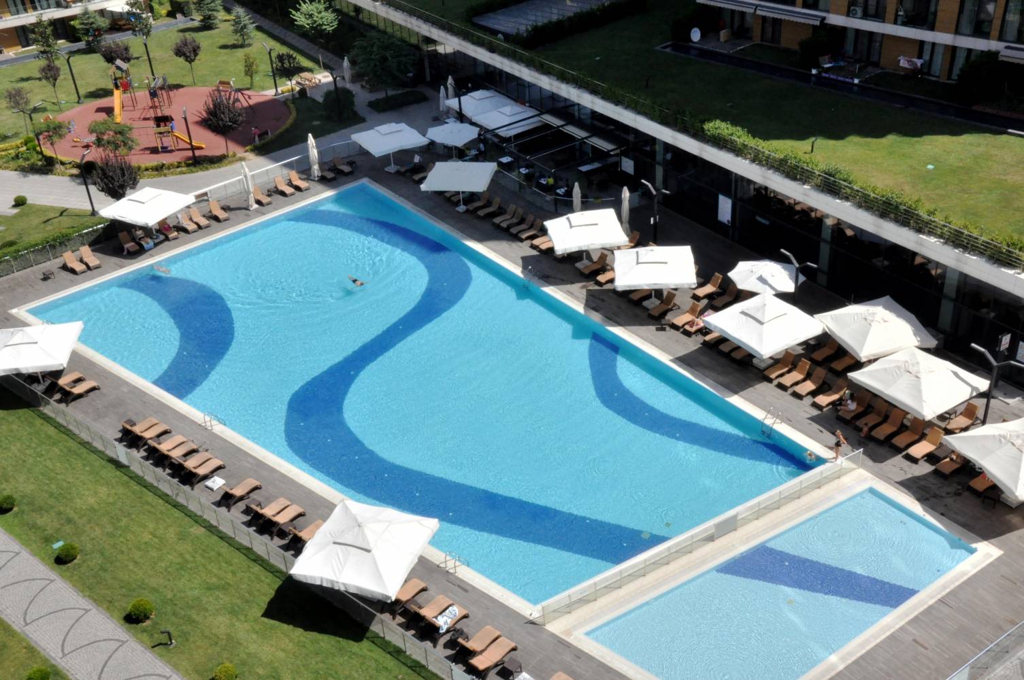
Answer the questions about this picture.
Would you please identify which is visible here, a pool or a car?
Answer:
pool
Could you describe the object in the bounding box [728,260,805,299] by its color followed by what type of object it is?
white umbrella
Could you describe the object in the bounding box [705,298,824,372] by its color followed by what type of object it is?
white umbrella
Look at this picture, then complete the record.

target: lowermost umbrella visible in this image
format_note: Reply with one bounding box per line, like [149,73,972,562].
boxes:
[291,507,439,603]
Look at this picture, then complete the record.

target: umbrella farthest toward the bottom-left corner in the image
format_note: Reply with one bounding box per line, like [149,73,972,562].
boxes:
[0,323,85,388]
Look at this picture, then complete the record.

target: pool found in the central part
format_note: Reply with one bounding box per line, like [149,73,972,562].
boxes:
[27,183,825,605]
